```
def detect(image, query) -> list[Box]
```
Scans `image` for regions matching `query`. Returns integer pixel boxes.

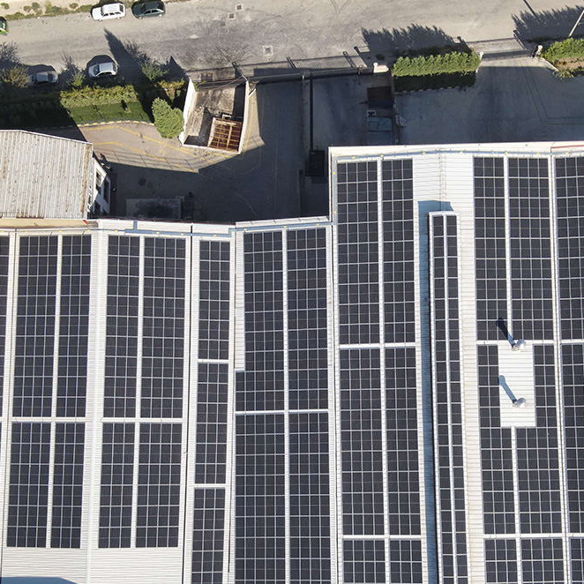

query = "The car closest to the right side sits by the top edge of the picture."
[134,0,166,19]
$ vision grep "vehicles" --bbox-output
[0,18,10,36]
[92,3,126,21]
[88,59,119,78]
[28,69,60,88]
[134,0,166,19]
